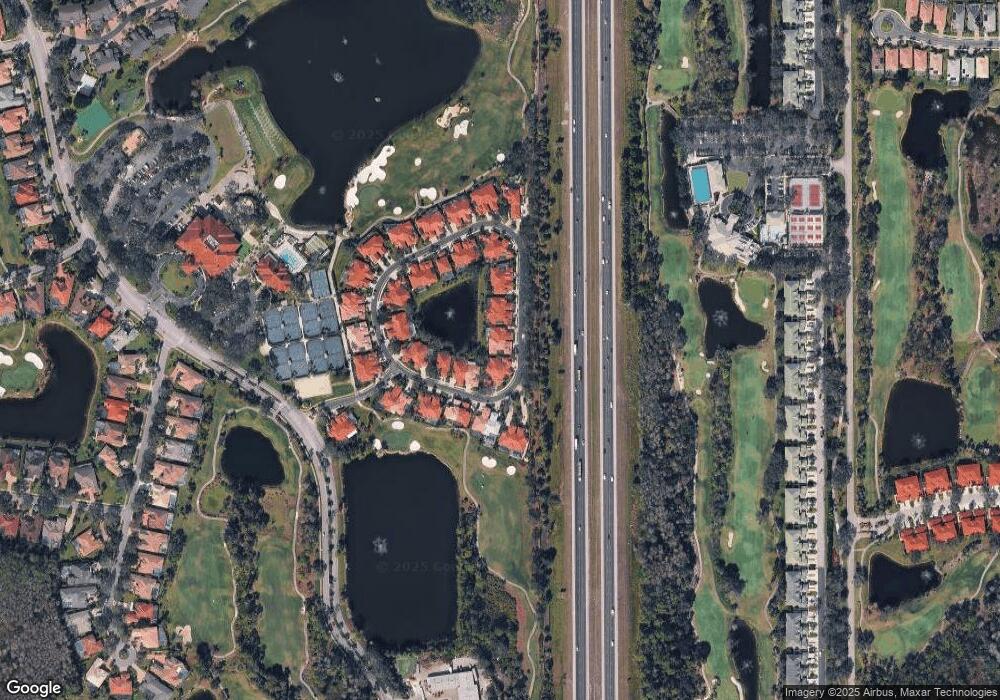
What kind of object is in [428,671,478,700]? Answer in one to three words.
building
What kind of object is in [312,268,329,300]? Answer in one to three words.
tennis court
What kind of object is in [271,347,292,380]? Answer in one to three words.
tennis court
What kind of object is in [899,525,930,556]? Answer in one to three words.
house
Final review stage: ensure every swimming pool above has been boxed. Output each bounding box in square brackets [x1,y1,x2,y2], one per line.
[688,161,727,207]
[275,241,306,272]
